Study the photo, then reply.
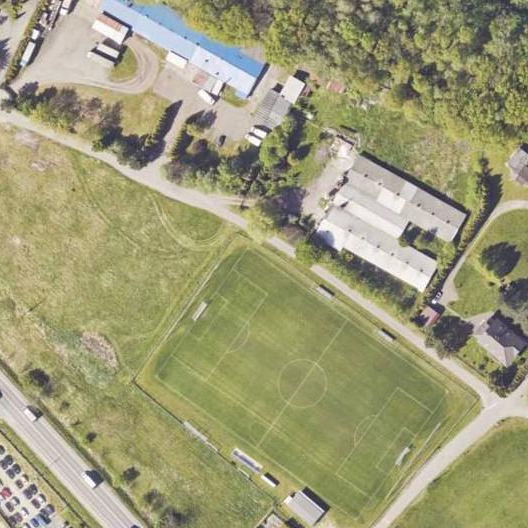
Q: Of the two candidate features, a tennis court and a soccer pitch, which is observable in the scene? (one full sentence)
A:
The image shows a soccer pitch.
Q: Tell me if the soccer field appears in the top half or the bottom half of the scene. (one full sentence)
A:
It is in the bottom half that the soccer field appears.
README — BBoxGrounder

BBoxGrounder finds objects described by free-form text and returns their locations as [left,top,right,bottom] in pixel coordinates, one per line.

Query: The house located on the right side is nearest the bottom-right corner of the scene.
[477,318,528,366]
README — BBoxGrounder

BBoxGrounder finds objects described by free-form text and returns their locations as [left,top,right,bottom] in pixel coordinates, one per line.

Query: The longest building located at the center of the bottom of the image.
[283,490,328,525]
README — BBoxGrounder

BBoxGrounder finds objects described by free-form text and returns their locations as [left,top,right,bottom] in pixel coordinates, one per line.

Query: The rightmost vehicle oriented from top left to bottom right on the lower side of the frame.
[83,470,99,489]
